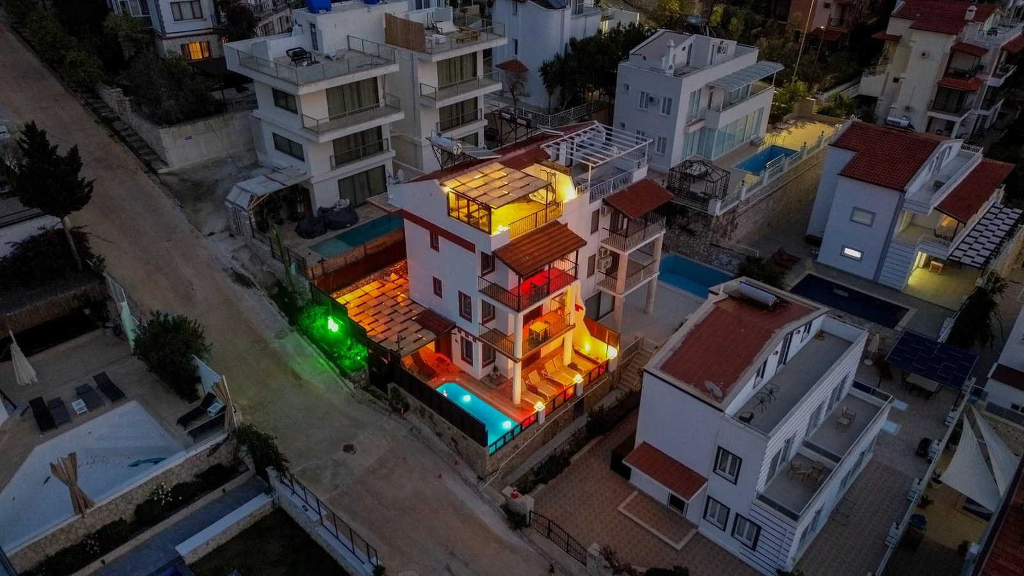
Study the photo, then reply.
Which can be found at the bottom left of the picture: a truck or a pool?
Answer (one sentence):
You can see a pool at the bottom left of the picture.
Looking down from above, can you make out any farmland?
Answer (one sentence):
No, there's no farmland in this view.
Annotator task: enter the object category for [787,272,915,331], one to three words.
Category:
swimming pool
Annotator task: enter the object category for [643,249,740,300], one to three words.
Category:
swimming pool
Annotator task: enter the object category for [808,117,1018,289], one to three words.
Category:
house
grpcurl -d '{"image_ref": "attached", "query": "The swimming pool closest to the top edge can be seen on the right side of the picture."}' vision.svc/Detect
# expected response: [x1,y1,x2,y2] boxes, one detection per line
[729,145,801,175]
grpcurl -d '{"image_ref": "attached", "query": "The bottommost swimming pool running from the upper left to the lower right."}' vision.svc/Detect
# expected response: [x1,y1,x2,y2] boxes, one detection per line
[430,379,523,449]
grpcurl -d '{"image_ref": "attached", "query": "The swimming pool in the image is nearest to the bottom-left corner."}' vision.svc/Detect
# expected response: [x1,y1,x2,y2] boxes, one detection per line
[0,402,186,548]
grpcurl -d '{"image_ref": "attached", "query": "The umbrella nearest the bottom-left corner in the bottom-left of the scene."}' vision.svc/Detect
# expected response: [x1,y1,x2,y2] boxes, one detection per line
[44,467,88,520]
